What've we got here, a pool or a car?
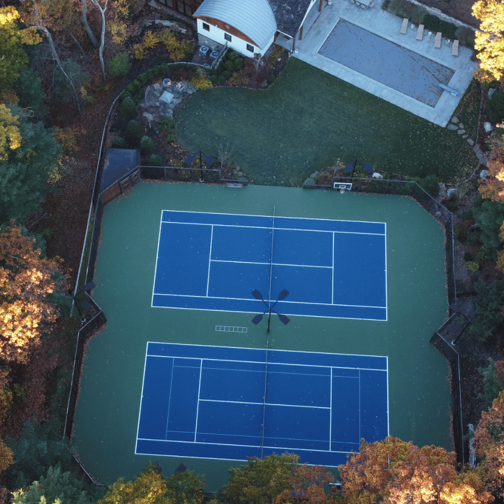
pool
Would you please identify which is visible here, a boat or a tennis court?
tennis court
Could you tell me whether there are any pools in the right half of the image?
Yes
